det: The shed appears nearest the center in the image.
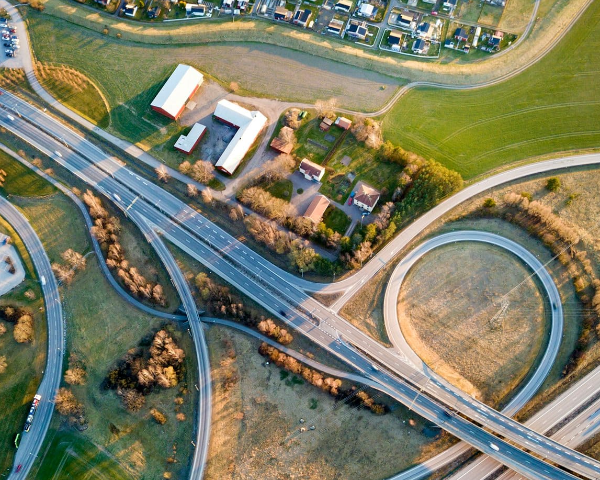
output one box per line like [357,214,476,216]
[304,194,329,220]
